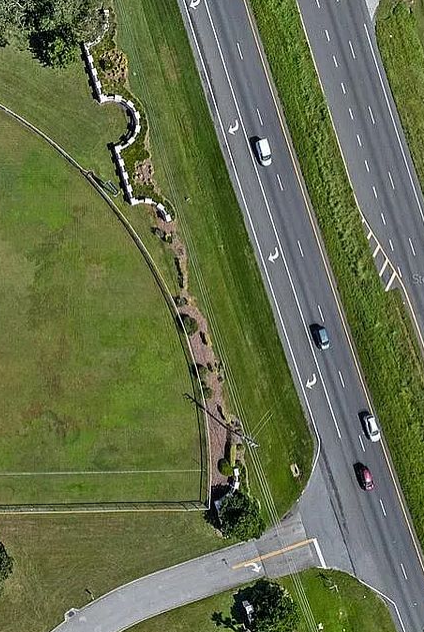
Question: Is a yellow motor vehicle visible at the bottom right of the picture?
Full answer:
No, there is no yellow motor vehicle at the bottom right of the picture.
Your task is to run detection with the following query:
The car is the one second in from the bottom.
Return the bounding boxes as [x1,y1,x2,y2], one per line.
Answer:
[363,413,381,442]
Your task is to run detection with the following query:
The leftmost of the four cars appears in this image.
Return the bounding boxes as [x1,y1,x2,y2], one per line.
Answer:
[254,138,272,167]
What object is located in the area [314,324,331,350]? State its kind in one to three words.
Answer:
car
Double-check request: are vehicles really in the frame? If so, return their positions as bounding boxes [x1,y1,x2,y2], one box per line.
[314,324,331,350]
[363,413,381,442]
[356,464,373,490]
[254,138,272,167]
